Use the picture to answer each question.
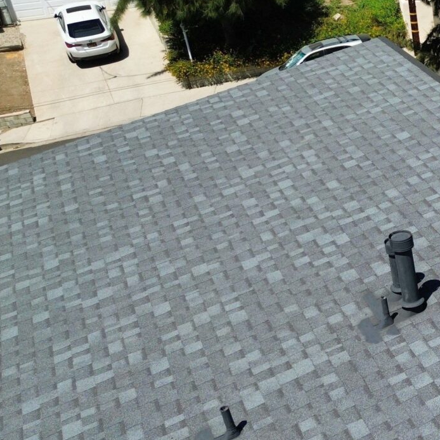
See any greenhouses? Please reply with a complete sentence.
No, there is no greenhouse in the image.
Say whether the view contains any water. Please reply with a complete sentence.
No, there's no water in this view.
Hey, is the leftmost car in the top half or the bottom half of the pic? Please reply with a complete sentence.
Seen from above, the leftmost car lies in the top half of the view.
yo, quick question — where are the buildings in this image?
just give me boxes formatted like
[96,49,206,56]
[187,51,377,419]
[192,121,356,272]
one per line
[0,0,146,25]
[0,36,440,440]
